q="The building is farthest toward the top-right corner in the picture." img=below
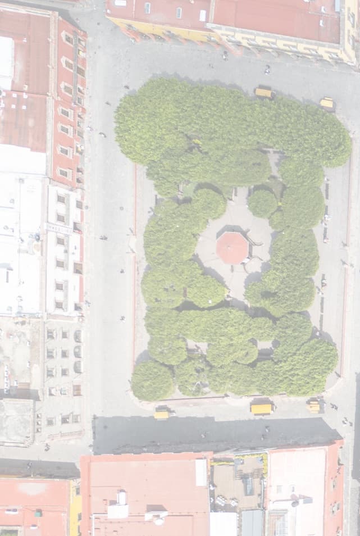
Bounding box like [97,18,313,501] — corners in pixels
[207,0,360,71]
